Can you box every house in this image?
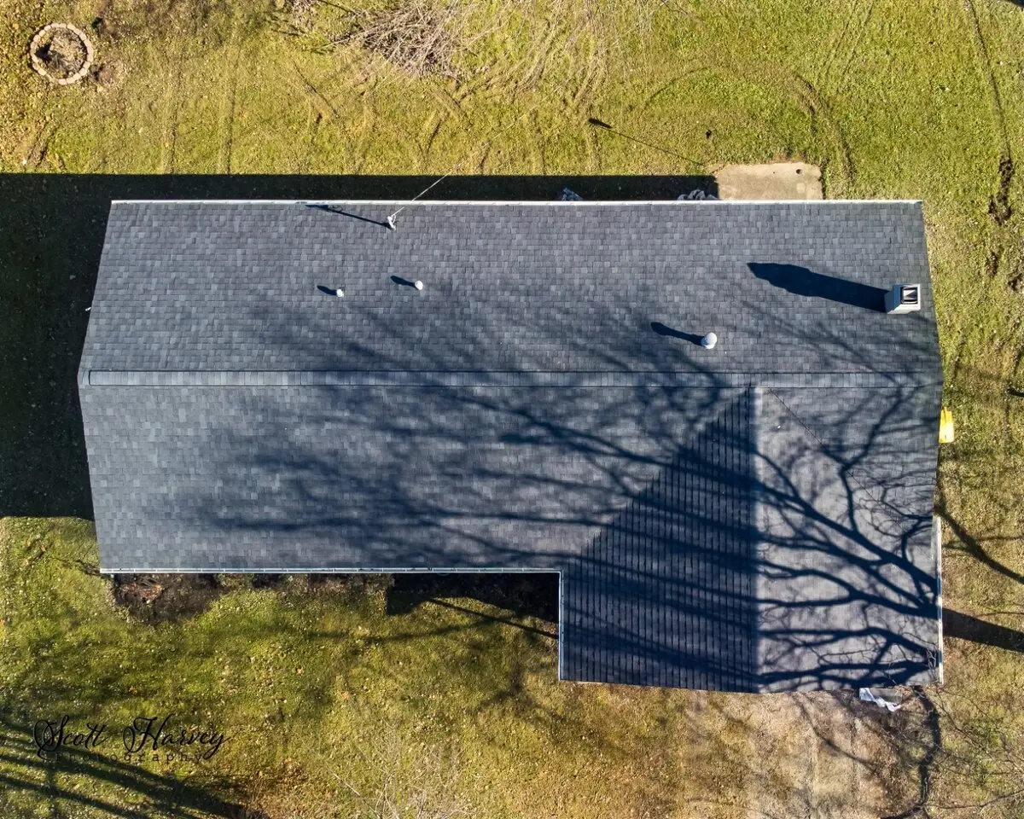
[78,198,942,693]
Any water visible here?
No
